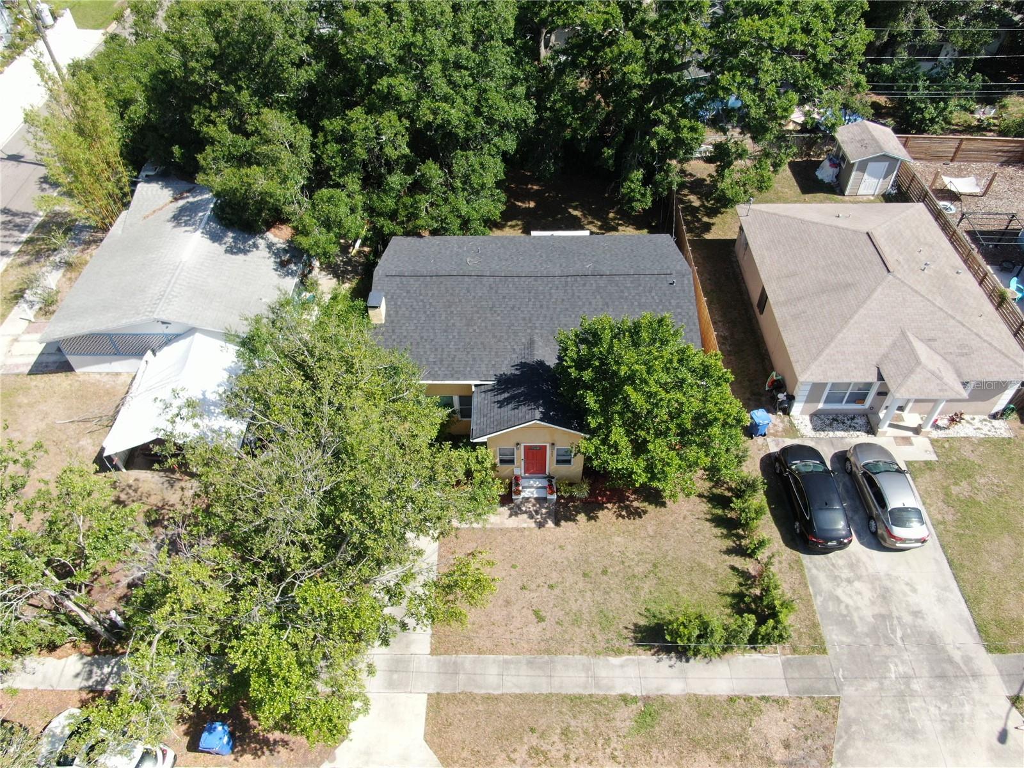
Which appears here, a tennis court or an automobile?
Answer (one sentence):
Visible in the photo is an automobile.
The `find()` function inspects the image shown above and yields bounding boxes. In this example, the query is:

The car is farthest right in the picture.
[852,443,932,545]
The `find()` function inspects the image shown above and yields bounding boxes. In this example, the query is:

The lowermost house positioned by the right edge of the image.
[736,196,1024,438]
